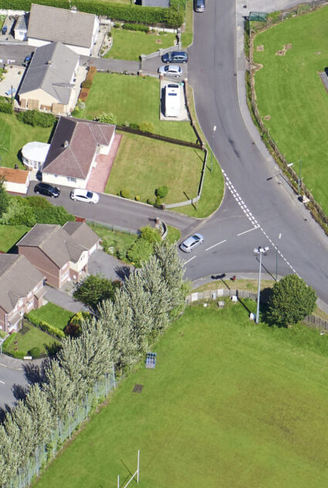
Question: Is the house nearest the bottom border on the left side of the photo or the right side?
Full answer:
It is on the left.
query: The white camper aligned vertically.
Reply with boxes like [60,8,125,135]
[166,80,181,115]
